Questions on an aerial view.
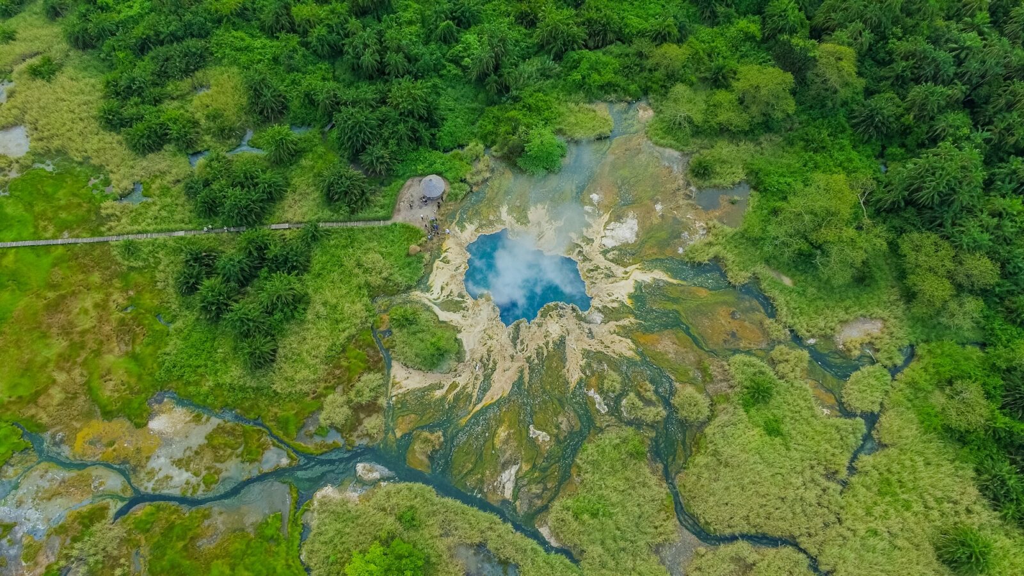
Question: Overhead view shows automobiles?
No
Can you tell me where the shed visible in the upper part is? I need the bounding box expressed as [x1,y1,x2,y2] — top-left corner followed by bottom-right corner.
[420,177,445,202]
